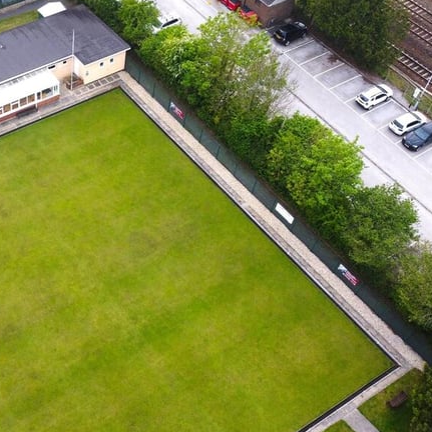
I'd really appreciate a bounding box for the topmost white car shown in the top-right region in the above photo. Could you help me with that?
[356,82,397,109]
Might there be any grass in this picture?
Yes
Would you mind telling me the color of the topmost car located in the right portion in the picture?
black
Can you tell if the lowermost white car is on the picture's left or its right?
right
